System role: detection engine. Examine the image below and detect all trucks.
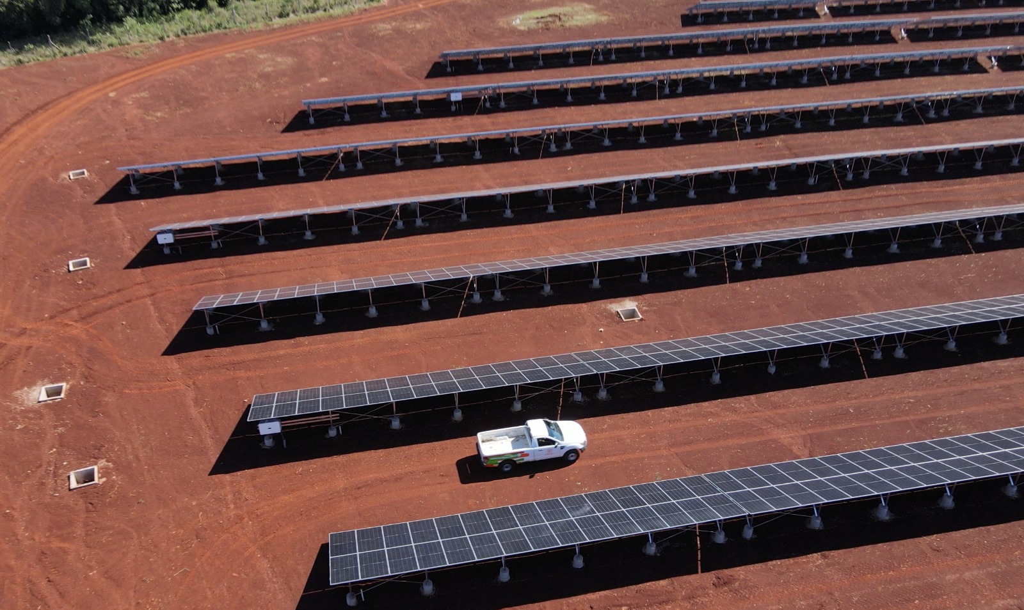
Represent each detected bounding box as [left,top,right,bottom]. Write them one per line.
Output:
[474,417,589,474]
